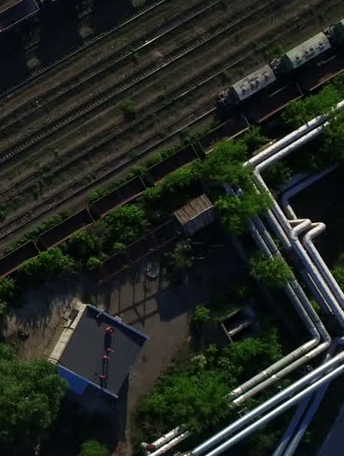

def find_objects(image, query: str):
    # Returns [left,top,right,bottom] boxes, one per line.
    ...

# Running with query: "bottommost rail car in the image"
[0,238,41,278]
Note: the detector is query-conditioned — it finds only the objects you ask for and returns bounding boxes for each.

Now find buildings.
[169,193,218,237]
[48,303,149,398]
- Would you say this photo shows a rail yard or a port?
rail yard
